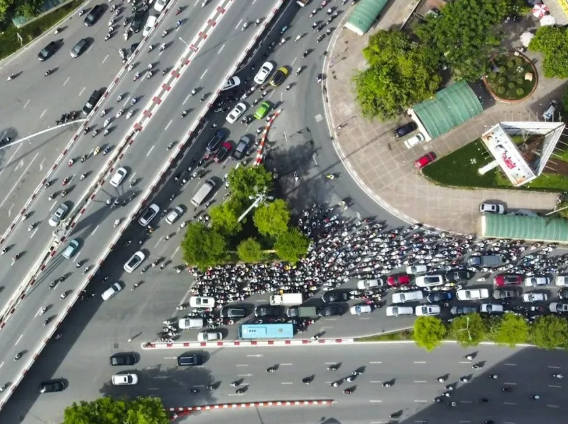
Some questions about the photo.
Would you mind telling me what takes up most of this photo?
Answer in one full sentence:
Most of the picture is covered by paved ground.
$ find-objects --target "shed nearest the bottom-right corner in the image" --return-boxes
[477,215,568,244]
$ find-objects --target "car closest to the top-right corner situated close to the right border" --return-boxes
[540,101,559,122]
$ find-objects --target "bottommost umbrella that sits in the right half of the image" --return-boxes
[519,33,534,47]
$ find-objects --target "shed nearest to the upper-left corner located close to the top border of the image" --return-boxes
[13,0,80,30]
